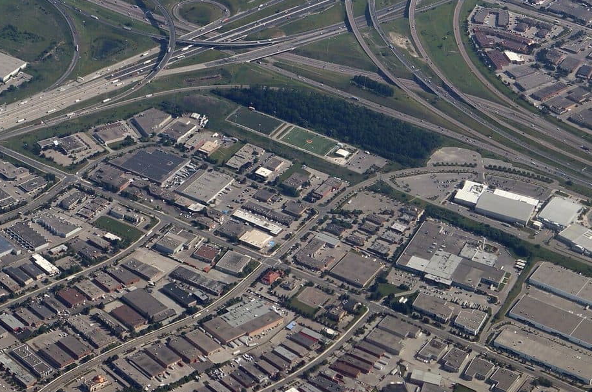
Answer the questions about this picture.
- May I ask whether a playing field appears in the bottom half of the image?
No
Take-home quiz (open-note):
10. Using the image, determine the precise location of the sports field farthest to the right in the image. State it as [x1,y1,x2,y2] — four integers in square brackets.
[280,127,337,156]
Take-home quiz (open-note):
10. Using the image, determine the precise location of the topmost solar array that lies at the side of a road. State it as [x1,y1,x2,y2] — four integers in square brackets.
[122,150,184,179]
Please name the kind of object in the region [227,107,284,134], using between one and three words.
sports field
